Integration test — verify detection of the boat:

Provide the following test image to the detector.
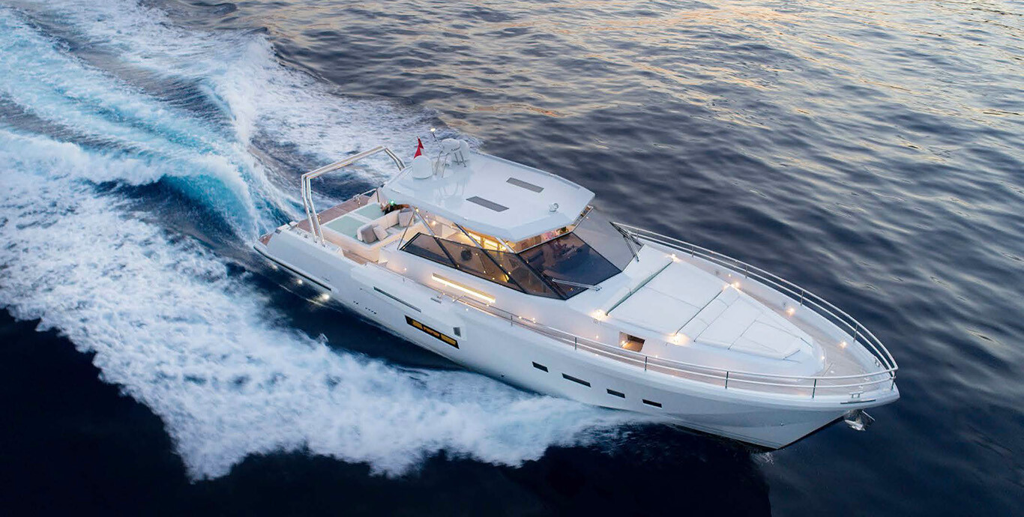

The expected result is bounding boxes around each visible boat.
[256,127,902,453]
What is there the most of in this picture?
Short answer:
water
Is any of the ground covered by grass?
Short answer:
No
